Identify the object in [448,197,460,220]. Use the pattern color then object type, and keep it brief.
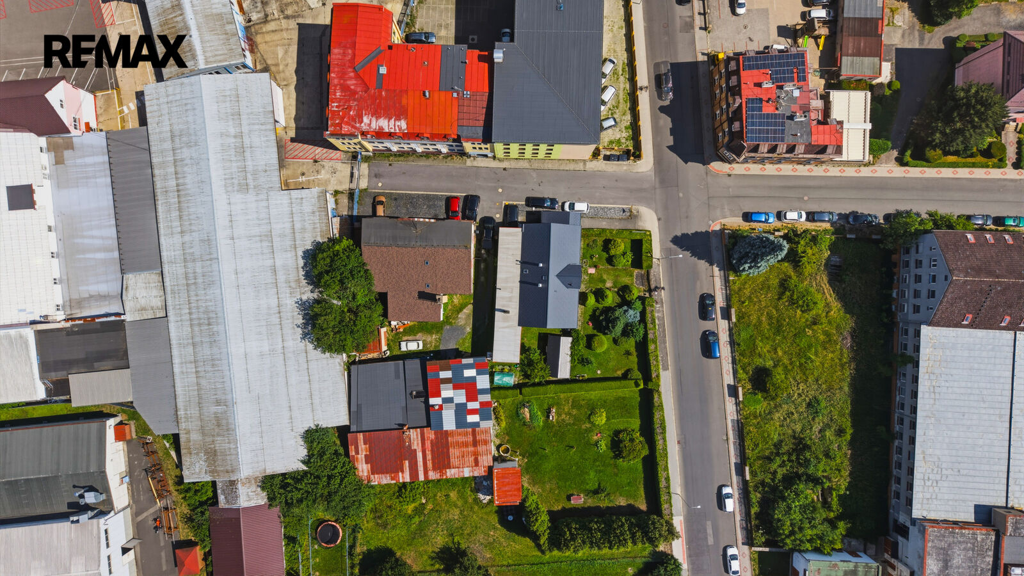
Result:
red vehicle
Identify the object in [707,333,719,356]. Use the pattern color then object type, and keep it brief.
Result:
blue vehicle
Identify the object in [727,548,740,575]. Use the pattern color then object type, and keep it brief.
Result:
white vehicle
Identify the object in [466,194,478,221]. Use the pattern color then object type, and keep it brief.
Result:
black vehicle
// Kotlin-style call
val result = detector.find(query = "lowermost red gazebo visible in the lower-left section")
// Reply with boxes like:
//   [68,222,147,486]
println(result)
[175,545,209,576]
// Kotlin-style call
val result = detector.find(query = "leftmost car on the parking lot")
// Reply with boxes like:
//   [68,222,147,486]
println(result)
[374,196,386,220]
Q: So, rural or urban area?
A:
urban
